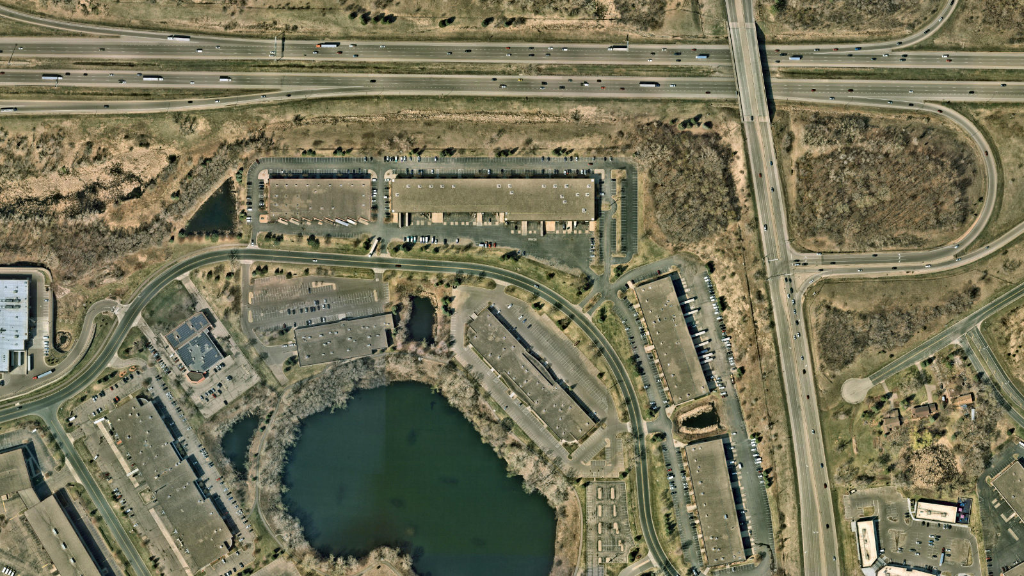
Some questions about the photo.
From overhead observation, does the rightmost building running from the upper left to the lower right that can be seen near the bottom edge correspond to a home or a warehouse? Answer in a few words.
warehouse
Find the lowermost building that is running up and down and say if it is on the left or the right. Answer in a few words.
right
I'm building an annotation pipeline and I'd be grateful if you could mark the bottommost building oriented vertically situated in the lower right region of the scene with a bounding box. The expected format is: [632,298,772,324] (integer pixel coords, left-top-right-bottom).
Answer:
[857,520,879,567]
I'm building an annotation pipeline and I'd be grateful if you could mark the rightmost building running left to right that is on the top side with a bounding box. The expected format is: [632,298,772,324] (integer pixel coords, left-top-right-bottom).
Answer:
[392,178,595,221]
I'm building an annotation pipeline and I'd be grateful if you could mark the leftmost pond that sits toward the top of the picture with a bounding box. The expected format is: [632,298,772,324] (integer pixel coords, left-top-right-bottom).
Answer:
[185,181,236,235]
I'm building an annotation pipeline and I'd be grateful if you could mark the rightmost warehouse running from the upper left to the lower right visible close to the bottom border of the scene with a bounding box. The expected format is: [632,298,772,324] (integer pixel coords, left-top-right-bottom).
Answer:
[93,398,232,568]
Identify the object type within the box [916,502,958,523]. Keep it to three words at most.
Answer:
building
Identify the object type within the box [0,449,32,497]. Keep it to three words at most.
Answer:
building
